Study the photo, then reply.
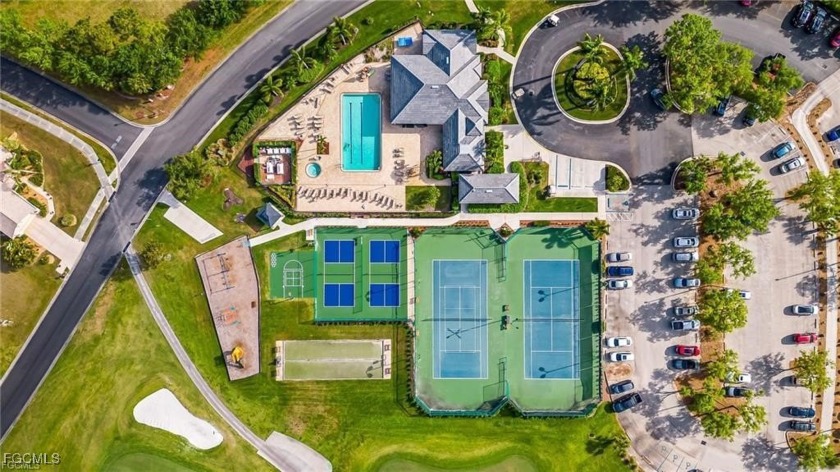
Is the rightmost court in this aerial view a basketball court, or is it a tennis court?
tennis court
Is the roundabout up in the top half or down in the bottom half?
top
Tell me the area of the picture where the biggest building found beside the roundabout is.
top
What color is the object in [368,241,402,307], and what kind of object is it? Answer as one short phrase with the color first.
blue sports court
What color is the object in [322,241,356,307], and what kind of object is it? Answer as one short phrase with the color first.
blue sports court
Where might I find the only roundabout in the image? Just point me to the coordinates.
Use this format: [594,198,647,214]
[509,0,658,187]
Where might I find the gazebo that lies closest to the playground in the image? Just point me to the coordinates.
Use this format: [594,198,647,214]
[253,202,281,229]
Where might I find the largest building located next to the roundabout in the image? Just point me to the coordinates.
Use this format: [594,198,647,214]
[391,30,491,172]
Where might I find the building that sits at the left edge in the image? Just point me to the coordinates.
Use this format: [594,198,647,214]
[0,152,48,240]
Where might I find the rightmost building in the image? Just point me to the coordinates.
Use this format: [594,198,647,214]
[459,174,519,204]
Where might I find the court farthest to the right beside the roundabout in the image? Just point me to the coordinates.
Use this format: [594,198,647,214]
[505,229,600,410]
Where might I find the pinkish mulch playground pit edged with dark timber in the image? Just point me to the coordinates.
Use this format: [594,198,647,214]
[194,236,260,381]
